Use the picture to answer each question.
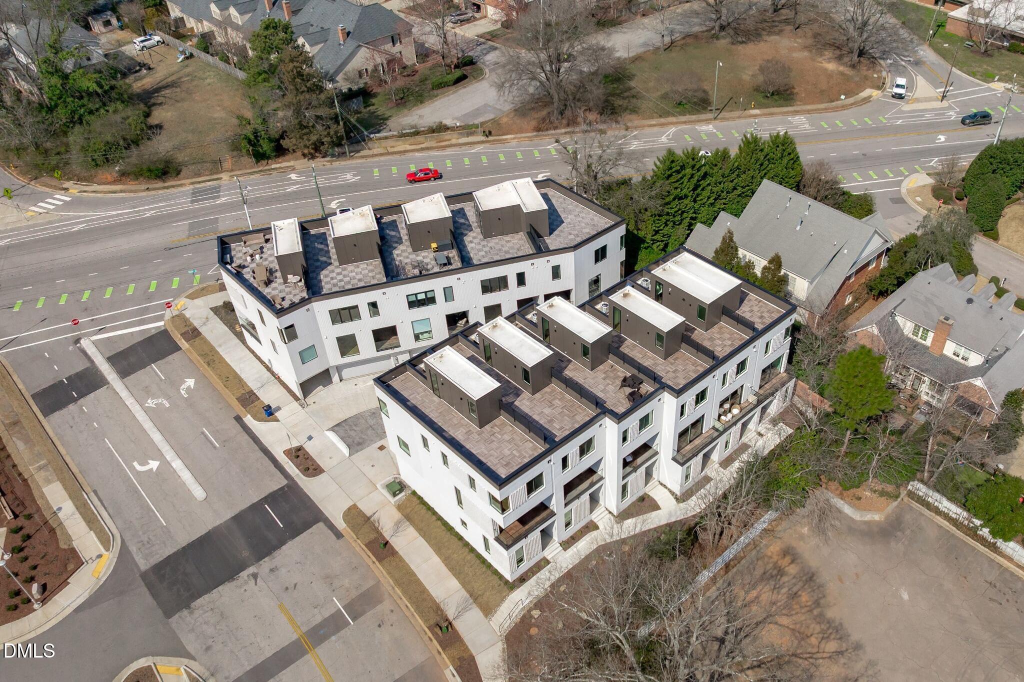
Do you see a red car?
Yes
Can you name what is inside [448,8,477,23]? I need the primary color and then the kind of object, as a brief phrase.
gray car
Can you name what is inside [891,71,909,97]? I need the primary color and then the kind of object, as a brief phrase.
white vehicle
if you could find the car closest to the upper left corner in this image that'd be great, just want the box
[130,32,164,49]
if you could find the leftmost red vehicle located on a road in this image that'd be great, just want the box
[405,166,442,184]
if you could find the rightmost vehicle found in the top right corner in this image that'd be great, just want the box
[958,108,996,127]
